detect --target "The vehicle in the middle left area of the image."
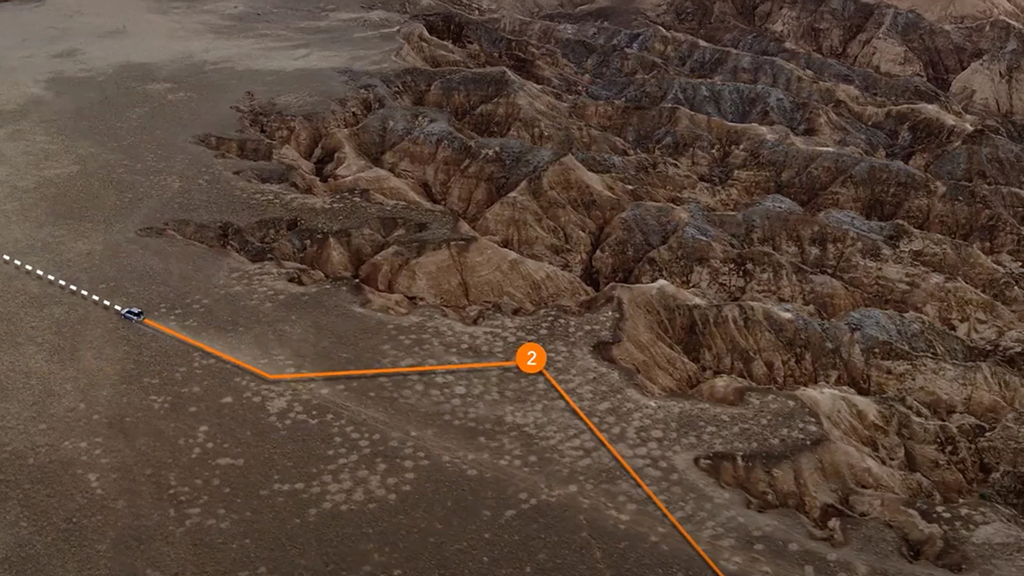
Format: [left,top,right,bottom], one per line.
[121,307,147,322]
